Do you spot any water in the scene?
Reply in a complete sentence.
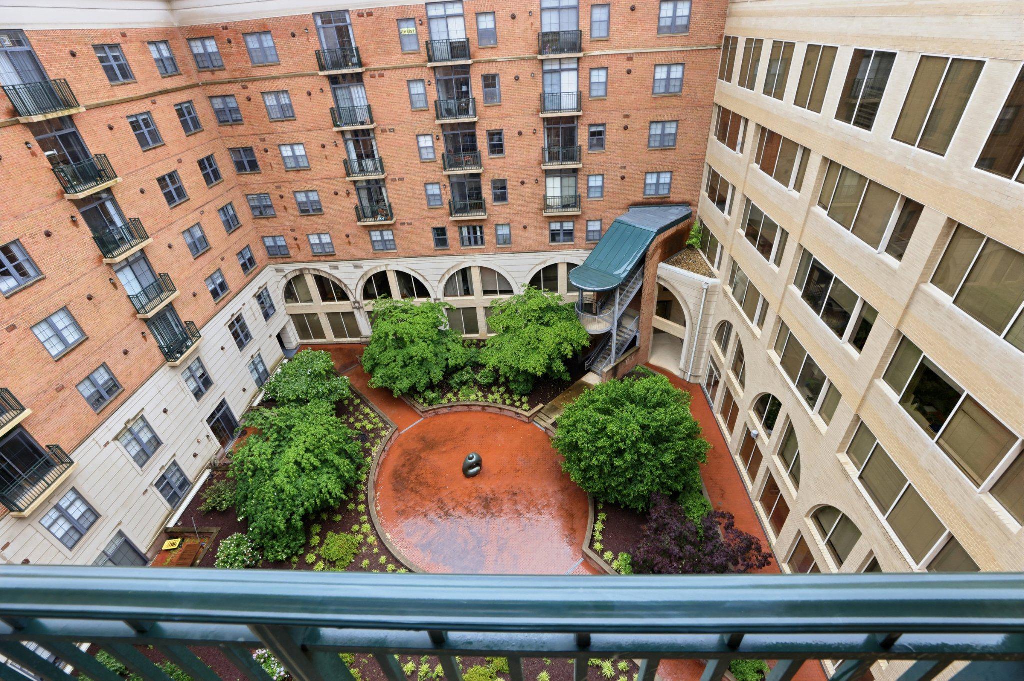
No, no water is visible.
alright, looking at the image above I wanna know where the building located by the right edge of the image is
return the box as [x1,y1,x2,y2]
[693,0,1024,574]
